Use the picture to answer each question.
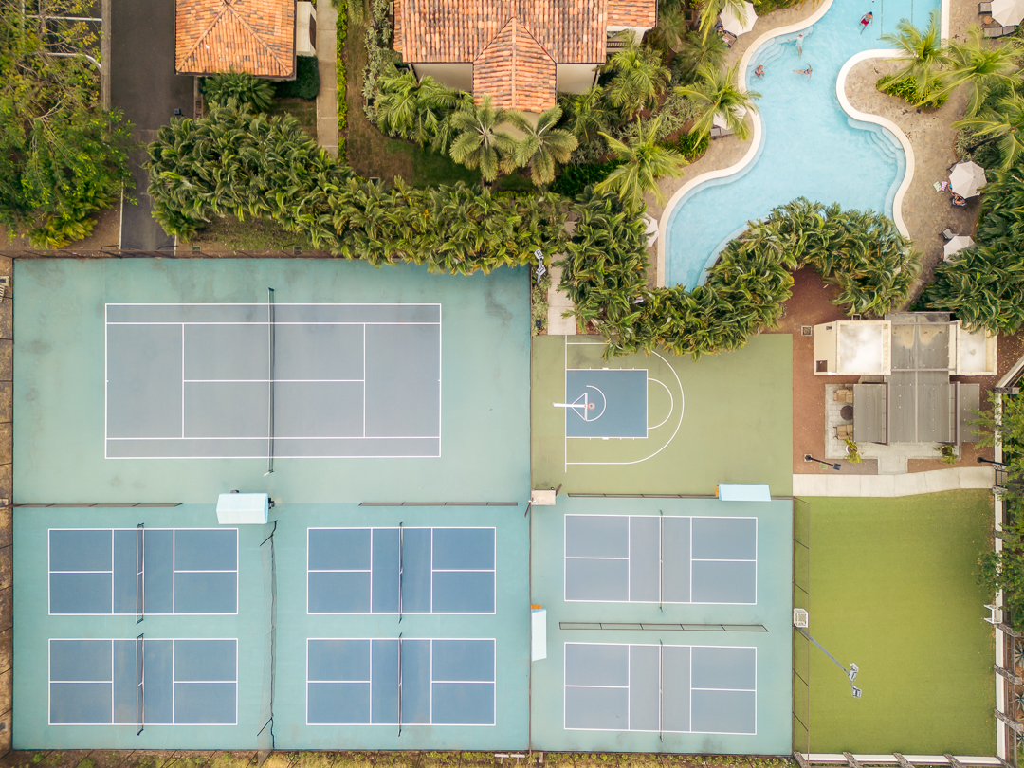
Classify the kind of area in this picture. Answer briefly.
sports ground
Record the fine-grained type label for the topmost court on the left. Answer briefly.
tennis court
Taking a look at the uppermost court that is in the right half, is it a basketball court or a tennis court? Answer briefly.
basketball court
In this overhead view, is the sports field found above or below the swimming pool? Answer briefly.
below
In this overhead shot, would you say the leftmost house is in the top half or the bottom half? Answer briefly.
top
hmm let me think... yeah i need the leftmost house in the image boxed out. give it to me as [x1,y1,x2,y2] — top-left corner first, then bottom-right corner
[173,0,323,82]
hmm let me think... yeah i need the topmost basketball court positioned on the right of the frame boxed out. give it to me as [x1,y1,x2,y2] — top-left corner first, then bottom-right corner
[531,334,793,496]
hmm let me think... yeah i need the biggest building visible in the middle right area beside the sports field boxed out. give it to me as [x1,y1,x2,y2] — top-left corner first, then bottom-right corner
[816,312,997,445]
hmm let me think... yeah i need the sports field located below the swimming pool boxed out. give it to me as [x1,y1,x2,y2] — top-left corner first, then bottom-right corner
[795,490,996,756]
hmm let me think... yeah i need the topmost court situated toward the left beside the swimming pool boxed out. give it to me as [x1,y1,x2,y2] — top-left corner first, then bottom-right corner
[12,258,530,503]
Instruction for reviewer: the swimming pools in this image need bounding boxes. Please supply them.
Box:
[654,0,951,305]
